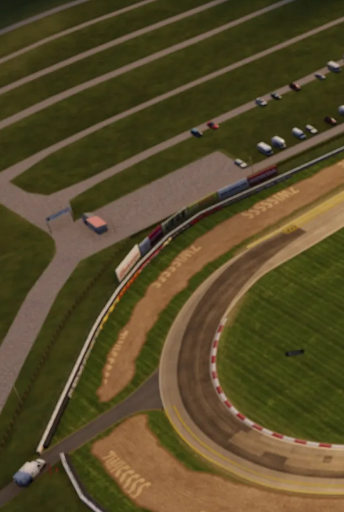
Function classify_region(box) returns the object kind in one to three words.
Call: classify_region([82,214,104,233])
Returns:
vehicle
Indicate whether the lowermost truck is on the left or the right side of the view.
left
